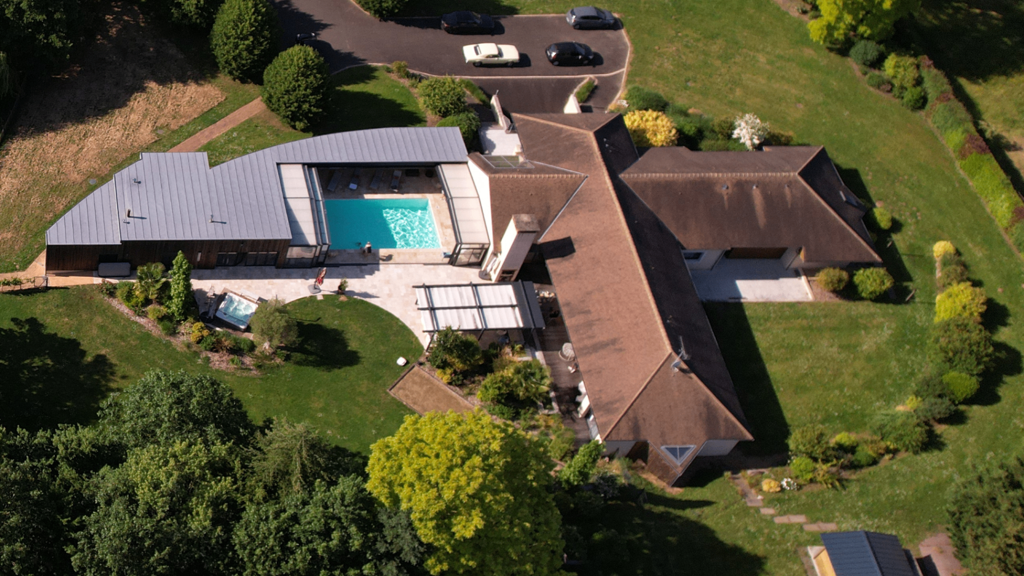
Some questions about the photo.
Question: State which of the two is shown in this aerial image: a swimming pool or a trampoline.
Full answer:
Visible in the photo is a swimming pool.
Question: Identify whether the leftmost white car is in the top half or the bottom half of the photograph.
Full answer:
The top half of the photo is where the leftmost white car is.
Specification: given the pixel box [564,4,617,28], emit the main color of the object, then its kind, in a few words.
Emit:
gray car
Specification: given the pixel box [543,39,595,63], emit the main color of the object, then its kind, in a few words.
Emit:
black car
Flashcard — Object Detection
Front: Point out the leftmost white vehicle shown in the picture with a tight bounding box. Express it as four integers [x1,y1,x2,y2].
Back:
[460,41,522,65]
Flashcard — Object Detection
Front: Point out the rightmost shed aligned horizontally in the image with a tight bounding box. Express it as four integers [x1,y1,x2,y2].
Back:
[803,530,915,576]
